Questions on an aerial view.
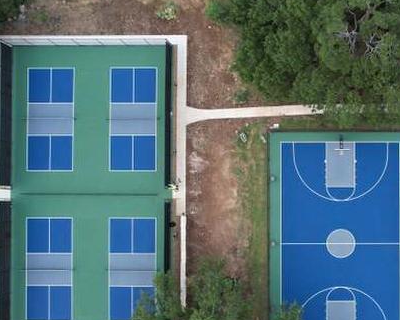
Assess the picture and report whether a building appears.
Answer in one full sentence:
No, no building can be seen from above.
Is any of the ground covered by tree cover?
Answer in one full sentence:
Yes, some tree cover is visible.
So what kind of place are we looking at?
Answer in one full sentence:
The area seen from above is a sports ground.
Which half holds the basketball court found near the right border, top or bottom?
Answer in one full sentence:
The basketball court found near the right border sits in the bottom half of the picture.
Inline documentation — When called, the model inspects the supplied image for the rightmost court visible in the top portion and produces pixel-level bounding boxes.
[110,68,157,171]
